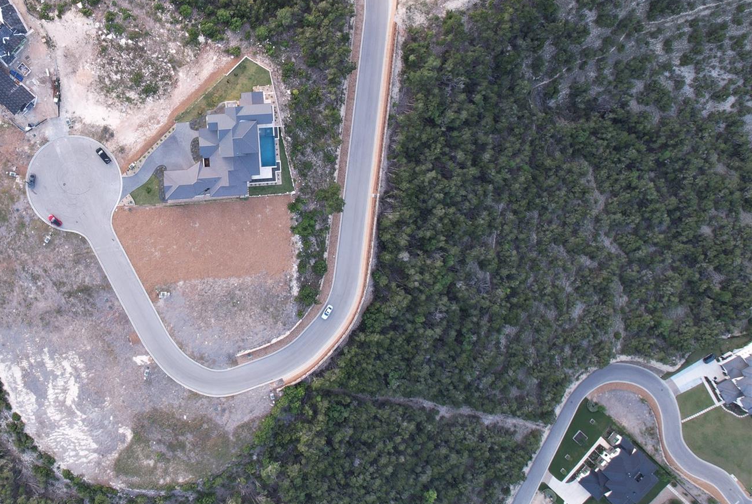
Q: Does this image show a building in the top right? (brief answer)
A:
No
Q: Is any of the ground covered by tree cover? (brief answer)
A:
Yes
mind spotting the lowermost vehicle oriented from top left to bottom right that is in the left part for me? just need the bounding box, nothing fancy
[46,214,64,229]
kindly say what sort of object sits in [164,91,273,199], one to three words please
building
